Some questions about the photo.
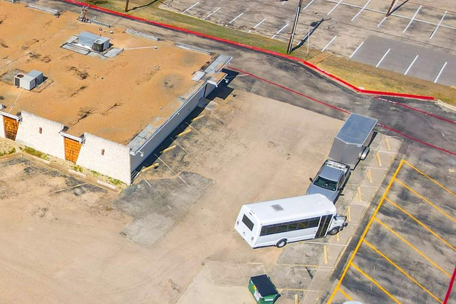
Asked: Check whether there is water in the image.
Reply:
No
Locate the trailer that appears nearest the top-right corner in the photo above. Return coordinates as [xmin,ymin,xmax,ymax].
[327,113,375,164]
